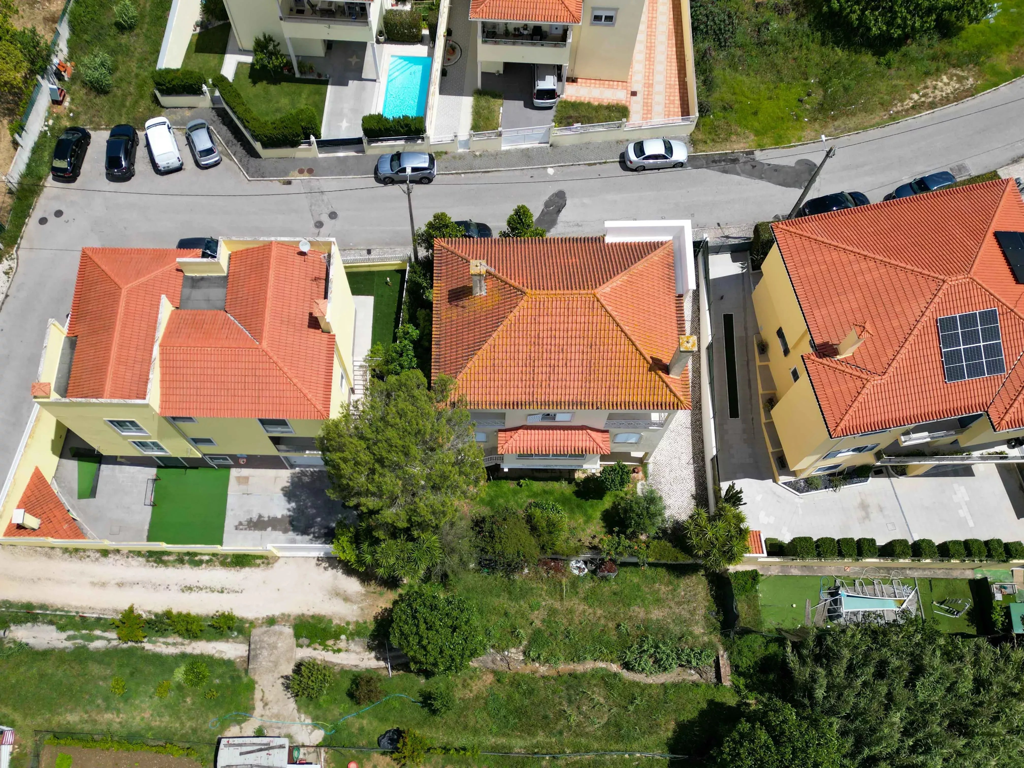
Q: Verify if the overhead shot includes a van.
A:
Yes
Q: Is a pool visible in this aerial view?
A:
Yes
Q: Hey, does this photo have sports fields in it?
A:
Yes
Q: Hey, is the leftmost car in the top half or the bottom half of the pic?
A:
top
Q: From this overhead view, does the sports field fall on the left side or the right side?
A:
left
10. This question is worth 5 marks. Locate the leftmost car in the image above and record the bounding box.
[54,129,96,183]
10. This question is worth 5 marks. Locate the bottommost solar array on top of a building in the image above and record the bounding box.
[940,308,1008,382]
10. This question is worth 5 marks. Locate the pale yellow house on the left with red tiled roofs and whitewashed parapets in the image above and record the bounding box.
[26,234,360,470]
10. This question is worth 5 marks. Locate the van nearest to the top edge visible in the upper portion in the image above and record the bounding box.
[532,64,561,110]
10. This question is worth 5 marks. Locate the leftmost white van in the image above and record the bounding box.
[141,121,184,174]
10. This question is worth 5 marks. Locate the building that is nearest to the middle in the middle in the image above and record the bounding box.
[430,221,701,475]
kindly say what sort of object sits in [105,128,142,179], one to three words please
car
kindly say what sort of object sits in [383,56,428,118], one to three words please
swimming pool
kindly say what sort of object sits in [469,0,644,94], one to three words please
house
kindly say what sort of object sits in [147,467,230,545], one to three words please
sports field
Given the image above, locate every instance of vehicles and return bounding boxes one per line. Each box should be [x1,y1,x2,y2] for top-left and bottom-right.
[886,172,950,201]
[54,129,96,183]
[172,233,226,250]
[803,191,865,217]
[105,128,142,179]
[141,121,184,174]
[623,140,689,172]
[532,64,561,110]
[185,121,225,169]
[375,152,437,185]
